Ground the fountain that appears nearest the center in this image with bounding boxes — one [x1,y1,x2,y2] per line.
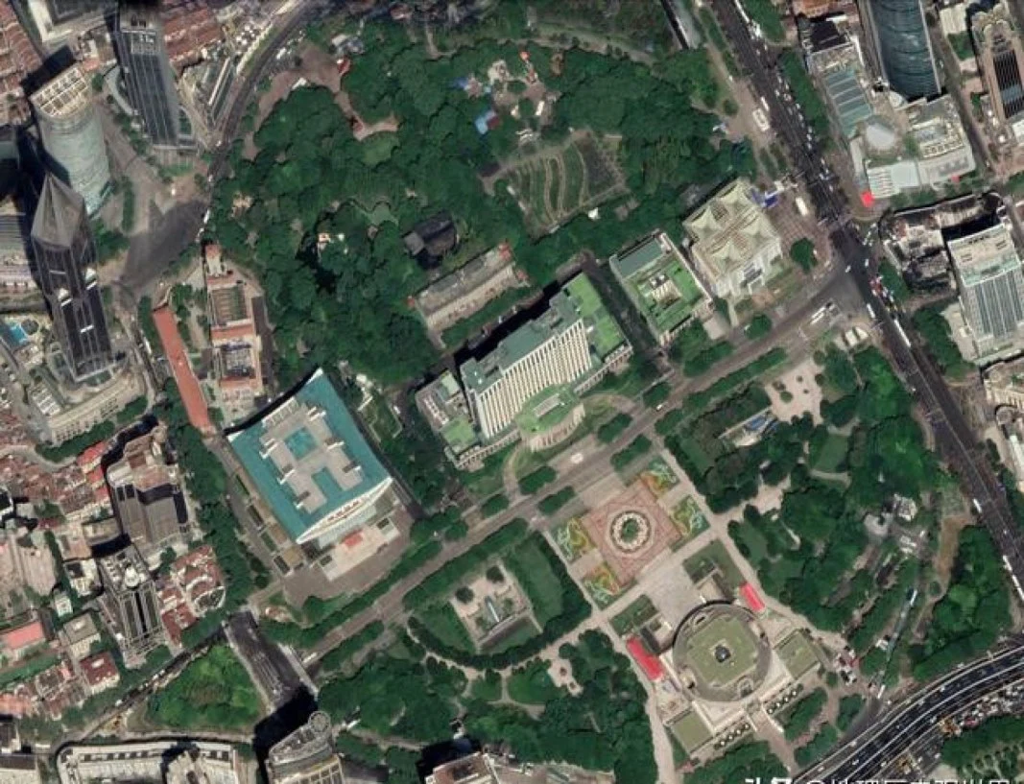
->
[584,482,679,582]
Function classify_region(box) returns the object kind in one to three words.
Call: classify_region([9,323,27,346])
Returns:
swimming pool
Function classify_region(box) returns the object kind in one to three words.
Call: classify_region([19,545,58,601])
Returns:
shed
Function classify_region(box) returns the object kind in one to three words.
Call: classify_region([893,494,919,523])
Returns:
building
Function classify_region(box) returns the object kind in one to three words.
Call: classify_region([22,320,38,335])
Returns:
gazebo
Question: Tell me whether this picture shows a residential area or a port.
residential area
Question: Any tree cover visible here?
Yes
